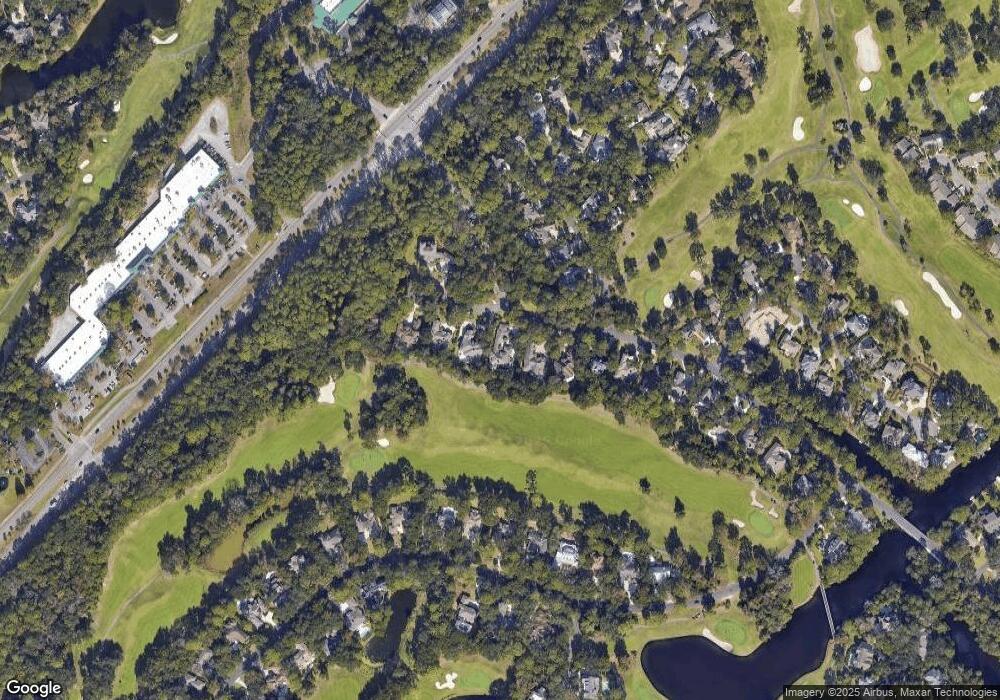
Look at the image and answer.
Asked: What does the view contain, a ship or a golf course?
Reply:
golf course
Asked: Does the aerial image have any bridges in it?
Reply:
Yes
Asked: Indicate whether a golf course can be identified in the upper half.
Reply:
Yes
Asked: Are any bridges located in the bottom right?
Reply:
Yes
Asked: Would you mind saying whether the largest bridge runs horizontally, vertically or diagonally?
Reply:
diagonally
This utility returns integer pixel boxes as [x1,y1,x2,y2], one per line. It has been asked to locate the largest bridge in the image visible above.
[888,509,941,556]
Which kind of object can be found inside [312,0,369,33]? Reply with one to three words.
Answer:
building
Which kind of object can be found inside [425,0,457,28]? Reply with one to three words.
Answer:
building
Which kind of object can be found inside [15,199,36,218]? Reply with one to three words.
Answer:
house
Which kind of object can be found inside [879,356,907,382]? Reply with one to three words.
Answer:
house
